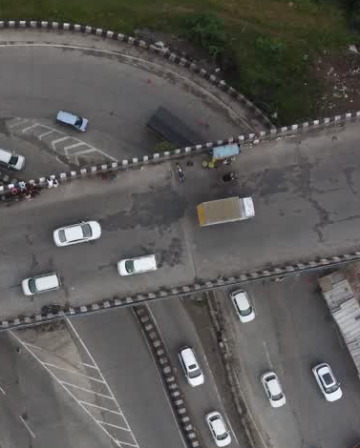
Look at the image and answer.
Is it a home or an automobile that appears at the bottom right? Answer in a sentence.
What appears at the bottom right is an automobile.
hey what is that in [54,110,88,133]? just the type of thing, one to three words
car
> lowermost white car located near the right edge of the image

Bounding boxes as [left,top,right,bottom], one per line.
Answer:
[309,360,342,402]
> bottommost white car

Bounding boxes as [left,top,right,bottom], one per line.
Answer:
[204,409,230,447]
